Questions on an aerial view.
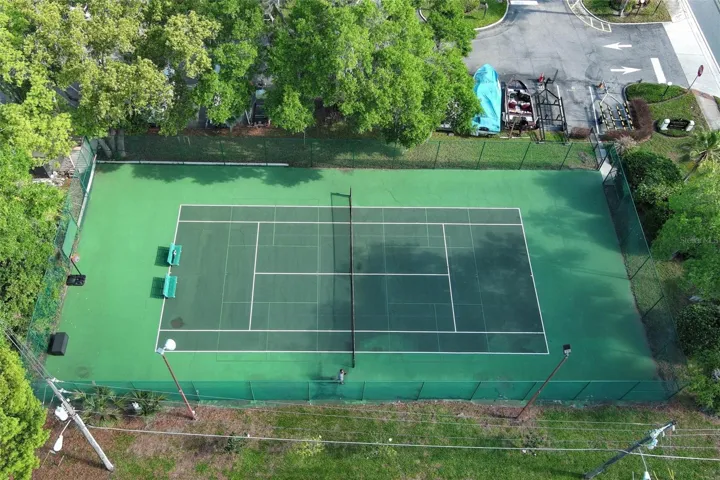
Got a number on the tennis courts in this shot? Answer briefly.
one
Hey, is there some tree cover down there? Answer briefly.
Yes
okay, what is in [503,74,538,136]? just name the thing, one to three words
boat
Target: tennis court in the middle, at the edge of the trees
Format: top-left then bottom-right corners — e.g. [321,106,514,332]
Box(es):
[49,163,662,384]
